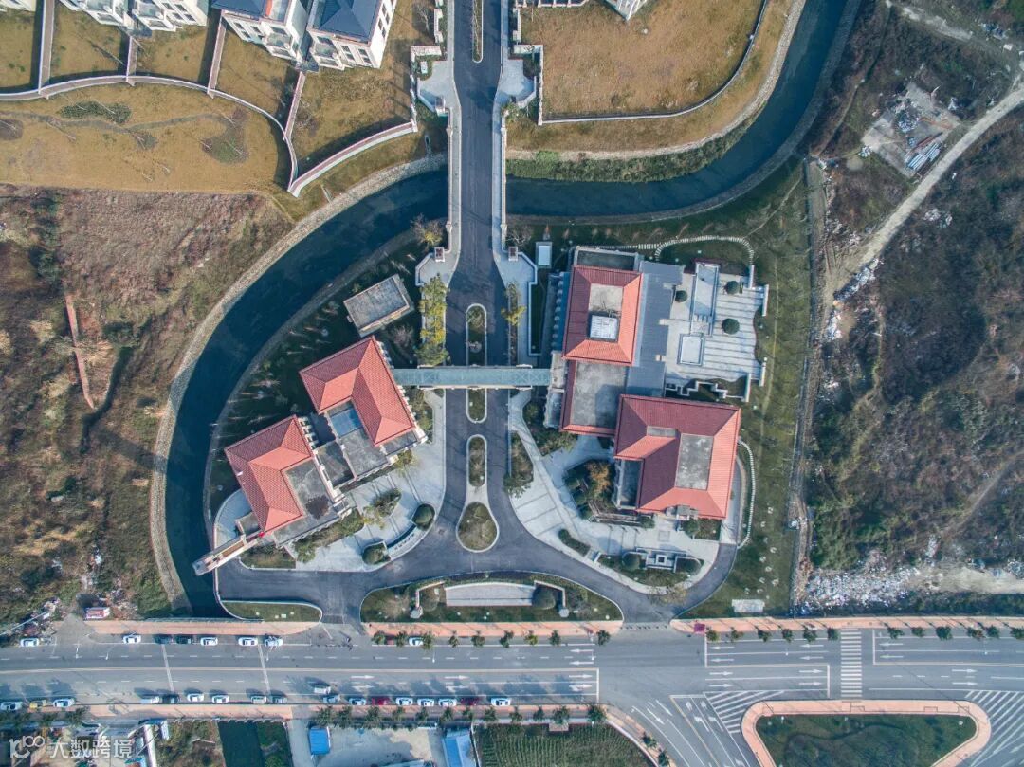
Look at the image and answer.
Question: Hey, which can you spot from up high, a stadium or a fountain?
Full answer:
Visible in the photo is a fountain.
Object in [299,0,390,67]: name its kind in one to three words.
house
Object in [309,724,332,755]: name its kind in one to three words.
shed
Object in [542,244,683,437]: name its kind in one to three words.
building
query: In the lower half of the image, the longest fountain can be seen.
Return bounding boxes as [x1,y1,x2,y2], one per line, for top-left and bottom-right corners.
[622,547,702,572]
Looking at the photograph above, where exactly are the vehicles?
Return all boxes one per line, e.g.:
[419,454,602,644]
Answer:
[124,634,142,643]
[271,696,289,705]
[382,636,399,644]
[139,695,160,705]
[28,699,49,709]
[372,696,389,705]
[323,694,341,703]
[2,700,21,709]
[312,685,332,695]
[162,694,180,703]
[21,638,40,646]
[462,696,479,705]
[396,697,413,705]
[178,634,195,643]
[240,636,258,644]
[201,636,219,645]
[155,634,173,643]
[55,697,74,707]
[212,694,230,702]
[492,697,509,706]
[187,692,205,700]
[439,697,457,706]
[417,697,434,706]
[407,637,424,645]
[349,696,367,705]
